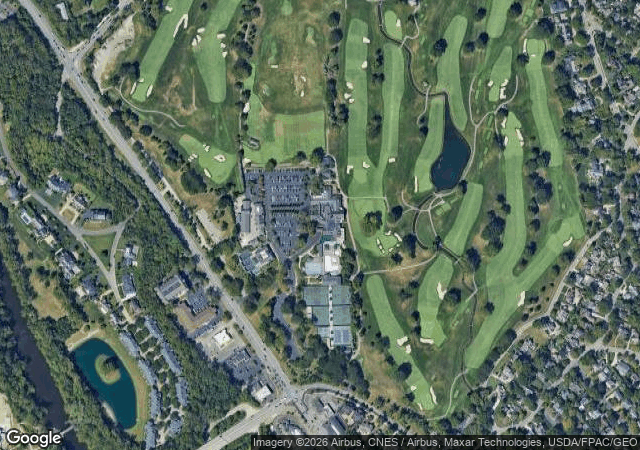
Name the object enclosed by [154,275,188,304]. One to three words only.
building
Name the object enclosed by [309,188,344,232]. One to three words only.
building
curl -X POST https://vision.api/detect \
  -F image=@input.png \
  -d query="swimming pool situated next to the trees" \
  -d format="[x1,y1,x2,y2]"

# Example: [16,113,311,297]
[304,261,324,276]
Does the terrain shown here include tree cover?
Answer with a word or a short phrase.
Yes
